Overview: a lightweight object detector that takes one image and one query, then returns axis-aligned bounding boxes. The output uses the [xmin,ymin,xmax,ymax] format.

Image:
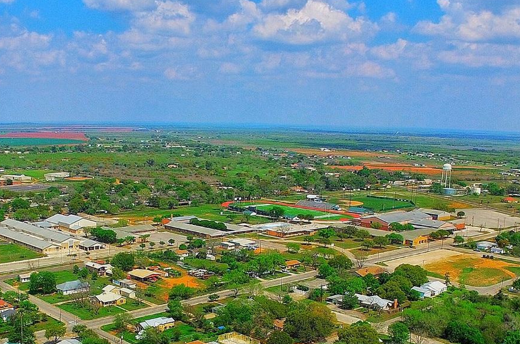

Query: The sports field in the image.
[225,202,349,218]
